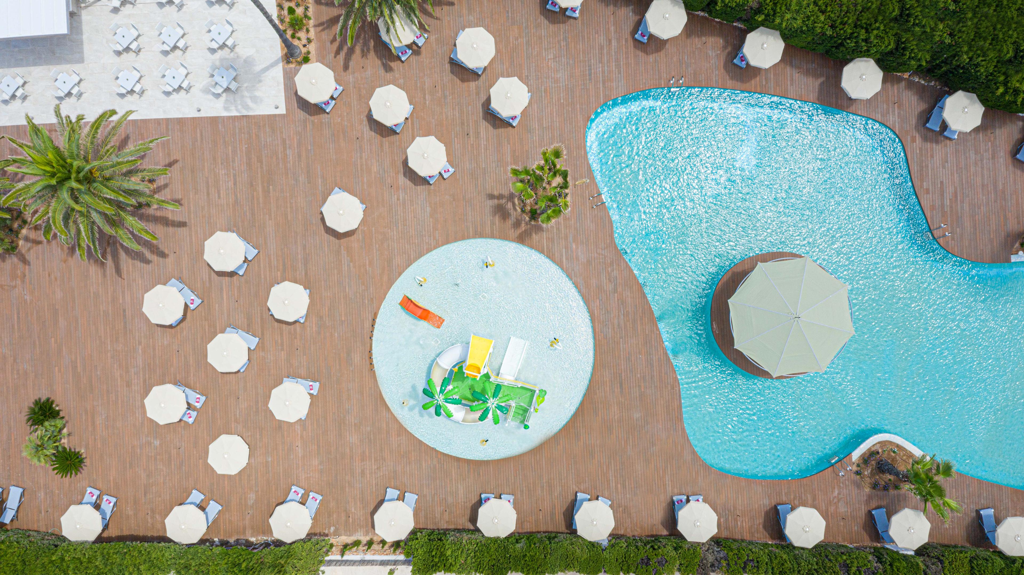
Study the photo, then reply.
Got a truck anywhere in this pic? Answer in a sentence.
No, there isn't any truck down there.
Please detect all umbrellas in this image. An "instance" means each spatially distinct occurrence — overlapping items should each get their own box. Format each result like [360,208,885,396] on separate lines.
[295,63,337,105]
[206,232,247,272]
[406,135,447,176]
[208,433,249,474]
[369,84,412,127]
[455,28,495,69]
[62,502,103,543]
[323,192,365,234]
[994,516,1024,556]
[574,498,615,540]
[208,332,248,372]
[270,380,312,422]
[165,503,208,545]
[144,284,186,326]
[941,91,985,133]
[476,498,517,539]
[742,27,785,70]
[784,506,826,548]
[645,0,687,39]
[677,501,718,541]
[841,58,882,100]
[145,382,187,424]
[489,76,529,116]
[888,508,930,550]
[373,500,415,541]
[268,281,310,324]
[555,0,585,8]
[728,255,855,378]
[269,499,312,542]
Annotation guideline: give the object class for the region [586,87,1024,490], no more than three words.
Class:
swimming pool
